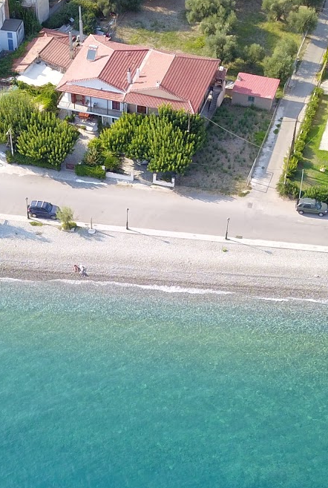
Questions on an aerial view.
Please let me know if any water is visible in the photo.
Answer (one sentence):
Yes, some water is visible.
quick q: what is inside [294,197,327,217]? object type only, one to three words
car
